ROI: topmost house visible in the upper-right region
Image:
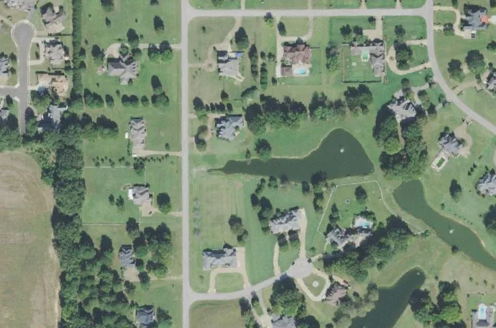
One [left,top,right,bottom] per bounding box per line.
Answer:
[462,7,488,31]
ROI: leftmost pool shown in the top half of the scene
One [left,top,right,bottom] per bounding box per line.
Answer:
[292,64,309,77]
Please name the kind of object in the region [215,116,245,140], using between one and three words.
house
